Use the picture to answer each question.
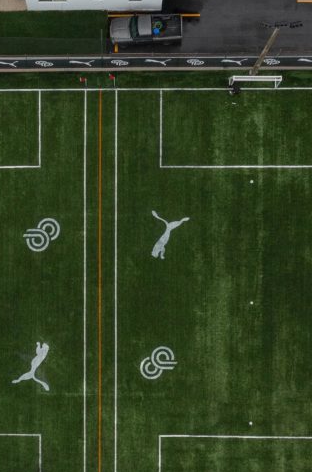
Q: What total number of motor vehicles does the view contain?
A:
1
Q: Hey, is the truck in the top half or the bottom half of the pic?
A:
top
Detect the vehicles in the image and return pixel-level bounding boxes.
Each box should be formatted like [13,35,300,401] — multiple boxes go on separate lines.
[110,12,185,51]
